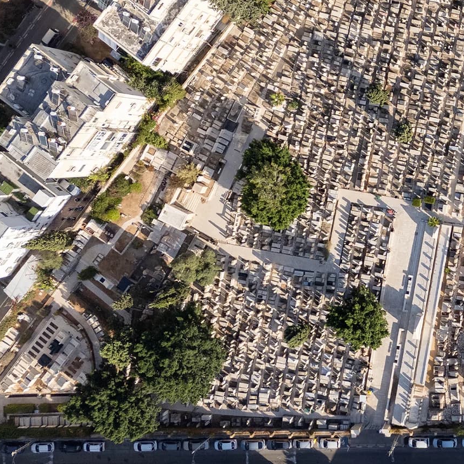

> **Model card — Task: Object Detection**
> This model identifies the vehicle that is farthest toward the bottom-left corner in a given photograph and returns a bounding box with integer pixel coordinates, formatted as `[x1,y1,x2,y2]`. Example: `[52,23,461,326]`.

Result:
[0,442,26,455]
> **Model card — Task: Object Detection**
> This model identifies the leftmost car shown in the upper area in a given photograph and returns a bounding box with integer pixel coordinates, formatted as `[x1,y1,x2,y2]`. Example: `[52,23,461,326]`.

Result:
[36,26,61,50]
